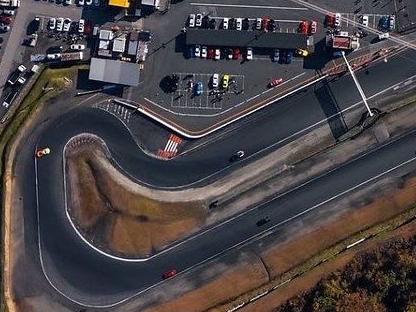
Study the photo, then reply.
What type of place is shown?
sports ground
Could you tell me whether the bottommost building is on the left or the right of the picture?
left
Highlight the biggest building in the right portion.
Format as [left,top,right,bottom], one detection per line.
[325,33,360,51]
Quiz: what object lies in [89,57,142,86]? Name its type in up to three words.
building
